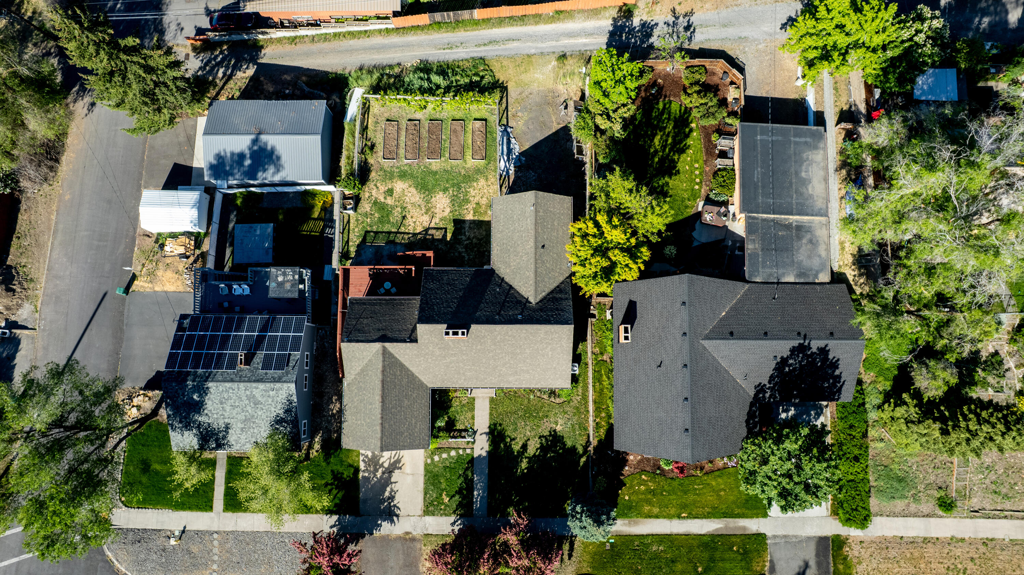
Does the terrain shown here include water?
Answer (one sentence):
No, water can't be seen anywhere here.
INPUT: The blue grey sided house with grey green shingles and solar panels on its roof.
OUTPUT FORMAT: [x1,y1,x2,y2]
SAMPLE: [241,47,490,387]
[162,312,316,452]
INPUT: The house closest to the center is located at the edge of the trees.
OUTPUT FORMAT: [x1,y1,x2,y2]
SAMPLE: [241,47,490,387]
[341,191,574,452]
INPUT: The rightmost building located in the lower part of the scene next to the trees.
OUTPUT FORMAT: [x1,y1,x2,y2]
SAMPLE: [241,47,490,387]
[614,274,865,464]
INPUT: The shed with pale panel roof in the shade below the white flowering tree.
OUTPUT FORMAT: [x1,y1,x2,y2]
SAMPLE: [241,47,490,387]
[901,68,958,108]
